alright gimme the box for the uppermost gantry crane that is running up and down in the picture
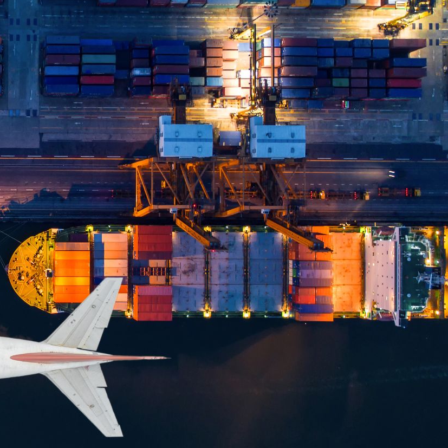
[226,24,274,122]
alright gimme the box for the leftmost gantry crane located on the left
[109,74,249,251]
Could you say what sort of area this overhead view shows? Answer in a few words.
port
